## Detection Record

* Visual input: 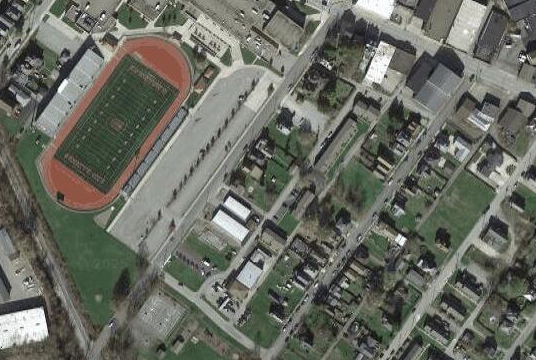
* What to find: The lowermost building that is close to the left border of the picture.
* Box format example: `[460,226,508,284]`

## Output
[0,305,47,349]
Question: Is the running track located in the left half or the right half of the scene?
left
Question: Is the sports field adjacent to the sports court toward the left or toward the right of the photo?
left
